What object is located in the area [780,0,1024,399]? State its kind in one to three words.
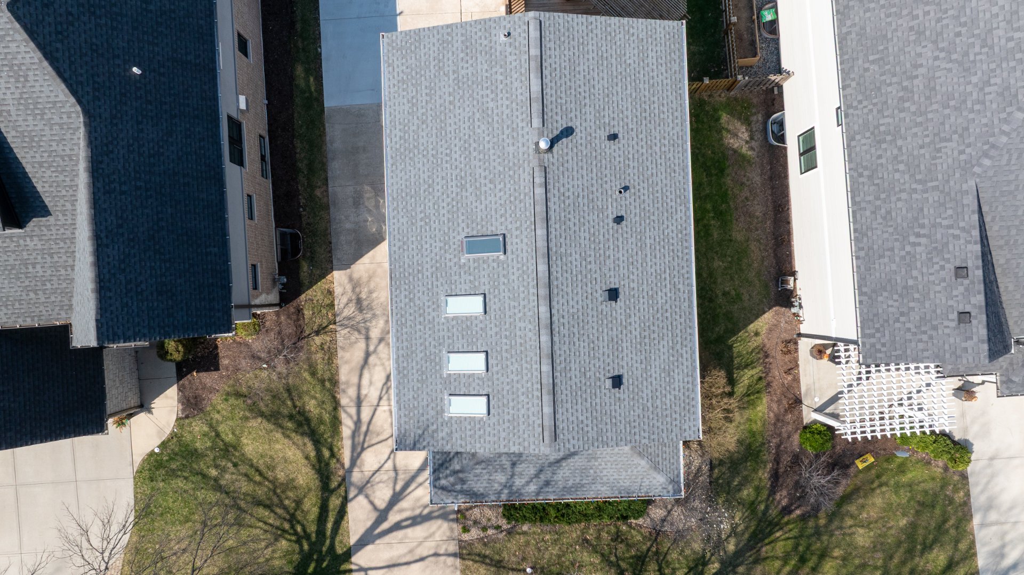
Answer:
house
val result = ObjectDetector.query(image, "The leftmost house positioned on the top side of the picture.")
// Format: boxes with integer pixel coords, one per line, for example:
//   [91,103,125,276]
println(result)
[0,0,291,352]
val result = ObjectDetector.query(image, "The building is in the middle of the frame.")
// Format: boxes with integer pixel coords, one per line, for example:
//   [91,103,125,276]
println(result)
[381,14,702,513]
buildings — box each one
[0,0,291,352]
[780,0,1024,399]
[381,14,702,513]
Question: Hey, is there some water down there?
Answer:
No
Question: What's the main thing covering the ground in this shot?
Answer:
buildings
